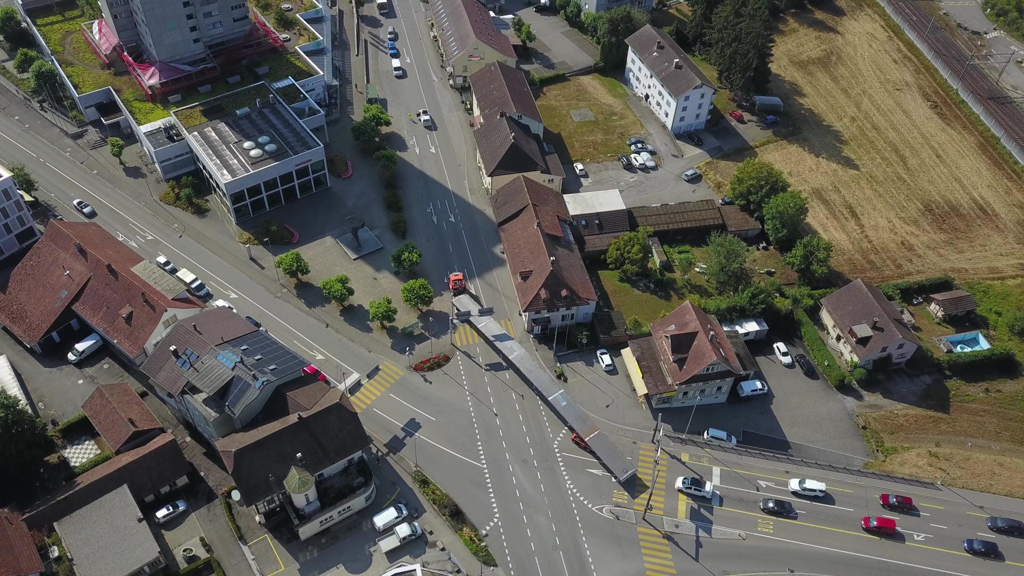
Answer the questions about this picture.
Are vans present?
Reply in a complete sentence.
Yes, this view includes a van.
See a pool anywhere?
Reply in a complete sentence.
Yes, the picture does show a pool.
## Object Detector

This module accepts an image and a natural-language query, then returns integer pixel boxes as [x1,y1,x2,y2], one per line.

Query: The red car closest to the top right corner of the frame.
[728,111,744,123]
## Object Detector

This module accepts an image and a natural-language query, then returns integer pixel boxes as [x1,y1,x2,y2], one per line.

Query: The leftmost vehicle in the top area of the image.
[72,200,96,217]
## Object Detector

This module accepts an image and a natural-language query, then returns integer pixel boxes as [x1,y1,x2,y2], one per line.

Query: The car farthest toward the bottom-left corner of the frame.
[149,497,192,525]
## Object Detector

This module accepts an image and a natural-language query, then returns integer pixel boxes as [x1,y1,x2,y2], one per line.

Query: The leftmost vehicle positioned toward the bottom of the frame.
[66,331,103,361]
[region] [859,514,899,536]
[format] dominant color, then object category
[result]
red vehicle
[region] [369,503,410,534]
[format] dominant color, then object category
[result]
white van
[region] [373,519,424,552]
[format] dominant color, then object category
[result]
white truck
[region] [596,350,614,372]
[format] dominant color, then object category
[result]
white car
